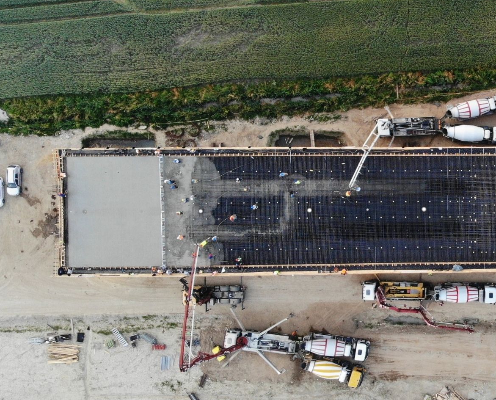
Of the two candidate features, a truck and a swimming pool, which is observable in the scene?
truck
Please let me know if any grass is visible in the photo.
Yes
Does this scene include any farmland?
Yes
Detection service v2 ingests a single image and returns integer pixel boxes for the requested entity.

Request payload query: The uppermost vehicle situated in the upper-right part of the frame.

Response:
[444,95,496,123]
